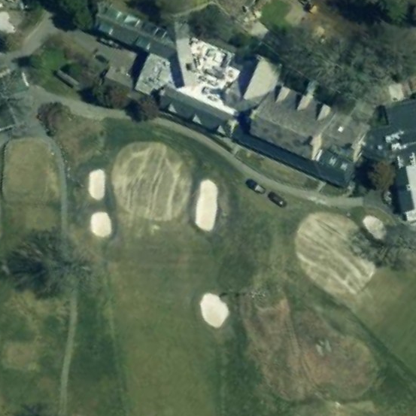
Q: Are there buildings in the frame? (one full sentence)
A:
Yes, there's a building here.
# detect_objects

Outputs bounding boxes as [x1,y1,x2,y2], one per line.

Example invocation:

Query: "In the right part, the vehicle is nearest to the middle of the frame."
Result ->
[244,177,266,194]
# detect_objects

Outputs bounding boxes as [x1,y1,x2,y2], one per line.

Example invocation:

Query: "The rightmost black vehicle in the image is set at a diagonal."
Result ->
[267,190,287,207]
